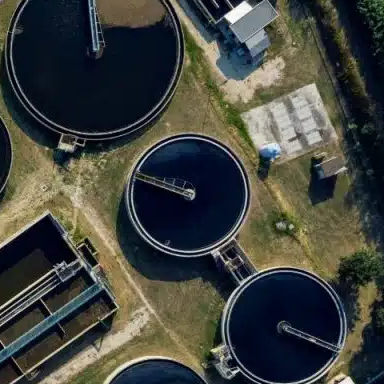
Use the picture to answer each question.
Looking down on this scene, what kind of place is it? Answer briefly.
industrial area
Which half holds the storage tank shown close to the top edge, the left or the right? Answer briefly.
left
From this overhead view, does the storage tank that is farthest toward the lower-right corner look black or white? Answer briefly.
black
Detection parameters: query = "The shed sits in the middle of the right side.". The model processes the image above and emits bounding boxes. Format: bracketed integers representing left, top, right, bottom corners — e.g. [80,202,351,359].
[312,156,345,181]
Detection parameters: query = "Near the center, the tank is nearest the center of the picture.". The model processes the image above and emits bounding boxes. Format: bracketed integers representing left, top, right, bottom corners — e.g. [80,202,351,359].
[124,133,250,257]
